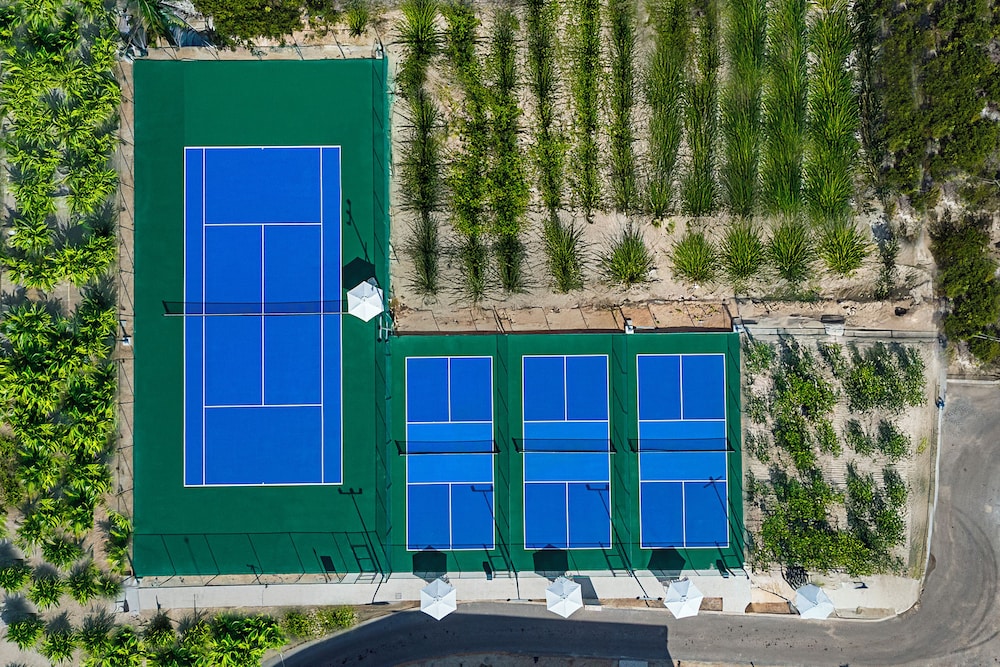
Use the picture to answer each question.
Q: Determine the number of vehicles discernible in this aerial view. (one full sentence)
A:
The picture shows no vehicles.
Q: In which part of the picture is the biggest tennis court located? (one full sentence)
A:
The biggest tennis court sits in the left section of the image.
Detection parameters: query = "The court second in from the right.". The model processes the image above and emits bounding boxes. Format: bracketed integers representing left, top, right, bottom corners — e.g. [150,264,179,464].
[508,334,629,572]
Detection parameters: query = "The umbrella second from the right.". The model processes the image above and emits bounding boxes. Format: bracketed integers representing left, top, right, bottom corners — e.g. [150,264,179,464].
[664,579,702,617]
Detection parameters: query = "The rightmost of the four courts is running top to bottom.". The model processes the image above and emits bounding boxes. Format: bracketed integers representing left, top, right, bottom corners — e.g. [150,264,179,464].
[623,333,746,571]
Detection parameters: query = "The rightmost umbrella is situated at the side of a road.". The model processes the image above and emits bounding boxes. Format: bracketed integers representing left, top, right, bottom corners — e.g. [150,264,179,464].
[793,584,829,621]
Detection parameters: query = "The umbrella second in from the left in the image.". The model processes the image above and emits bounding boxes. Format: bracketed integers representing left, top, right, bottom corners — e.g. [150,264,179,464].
[421,578,455,617]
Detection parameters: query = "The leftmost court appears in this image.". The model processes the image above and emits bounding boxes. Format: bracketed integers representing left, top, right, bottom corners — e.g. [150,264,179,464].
[134,59,389,577]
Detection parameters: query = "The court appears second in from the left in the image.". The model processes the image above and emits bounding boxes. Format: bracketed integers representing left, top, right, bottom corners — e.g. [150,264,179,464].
[392,334,512,573]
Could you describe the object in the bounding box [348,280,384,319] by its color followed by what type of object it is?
white umbrella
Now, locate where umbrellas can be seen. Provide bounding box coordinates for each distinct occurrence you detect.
[793,584,829,621]
[546,576,582,615]
[348,280,384,319]
[421,578,455,617]
[664,579,702,617]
